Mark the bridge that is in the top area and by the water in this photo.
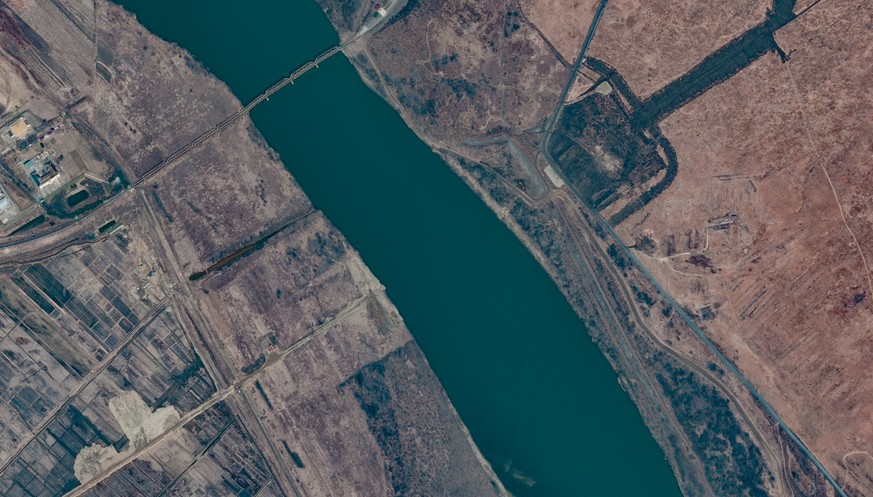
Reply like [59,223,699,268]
[130,43,346,188]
